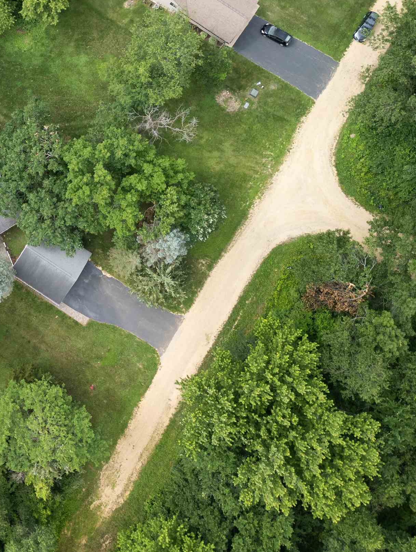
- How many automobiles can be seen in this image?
2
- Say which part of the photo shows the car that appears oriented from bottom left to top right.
top right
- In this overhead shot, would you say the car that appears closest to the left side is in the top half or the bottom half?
top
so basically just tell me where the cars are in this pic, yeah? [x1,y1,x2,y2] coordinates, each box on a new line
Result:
[353,11,379,43]
[261,25,293,45]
